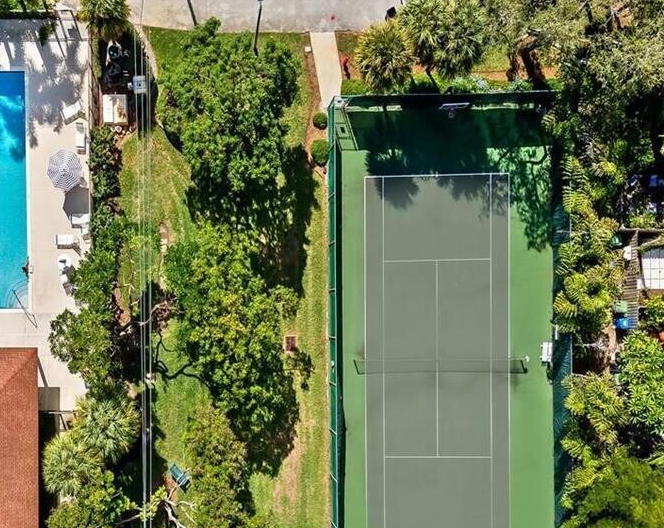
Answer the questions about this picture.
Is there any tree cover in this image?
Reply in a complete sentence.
Yes, there is tree cover in the image.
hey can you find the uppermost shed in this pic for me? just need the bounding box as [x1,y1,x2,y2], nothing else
[103,93,128,129]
